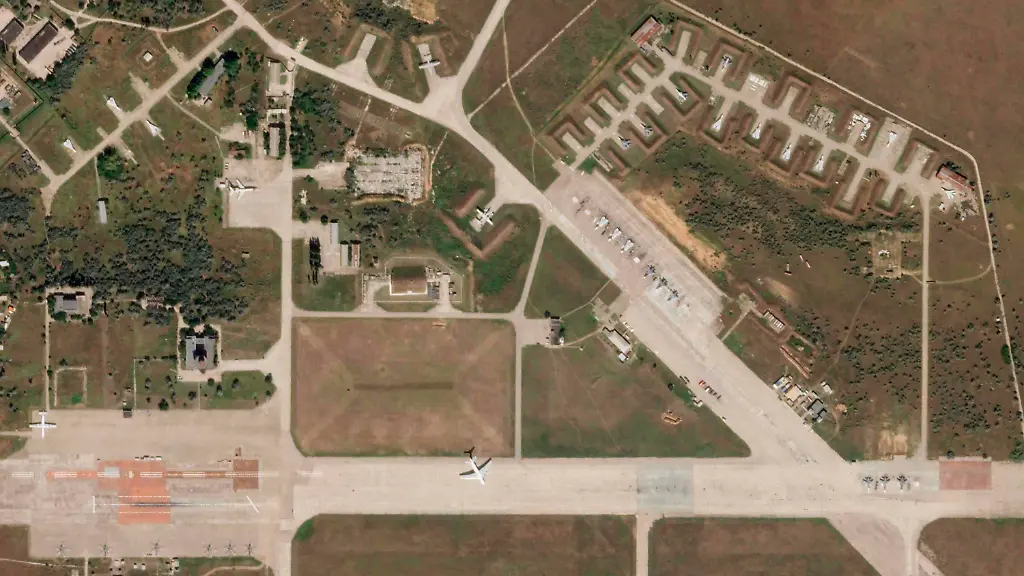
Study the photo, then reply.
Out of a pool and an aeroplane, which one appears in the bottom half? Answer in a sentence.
The feature located in the bottom half is an aeroplane.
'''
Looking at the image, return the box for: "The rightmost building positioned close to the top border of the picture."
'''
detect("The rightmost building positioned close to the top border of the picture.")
[631,17,662,48]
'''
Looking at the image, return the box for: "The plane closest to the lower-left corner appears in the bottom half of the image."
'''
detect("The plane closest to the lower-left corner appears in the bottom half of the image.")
[29,413,56,437]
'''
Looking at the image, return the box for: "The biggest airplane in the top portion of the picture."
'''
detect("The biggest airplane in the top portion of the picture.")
[227,180,253,200]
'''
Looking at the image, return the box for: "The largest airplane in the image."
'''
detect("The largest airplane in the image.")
[460,457,492,486]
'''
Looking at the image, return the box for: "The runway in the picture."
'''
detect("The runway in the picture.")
[290,457,1024,518]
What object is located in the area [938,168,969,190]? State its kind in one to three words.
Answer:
hangar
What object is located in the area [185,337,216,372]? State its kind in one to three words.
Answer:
building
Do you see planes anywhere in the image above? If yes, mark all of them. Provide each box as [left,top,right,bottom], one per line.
[460,457,492,486]
[943,188,956,201]
[61,139,74,153]
[712,116,722,131]
[474,212,490,227]
[620,139,632,152]
[641,125,653,138]
[419,56,439,72]
[676,89,688,103]
[668,288,679,301]
[888,131,897,146]
[622,238,633,251]
[880,476,891,490]
[598,214,608,228]
[644,263,655,278]
[782,146,791,161]
[610,226,622,240]
[814,157,823,172]
[863,476,874,491]
[148,124,161,137]
[656,275,667,289]
[107,97,120,111]
[29,413,56,437]
[751,124,760,139]
[897,476,908,491]
[227,180,253,200]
